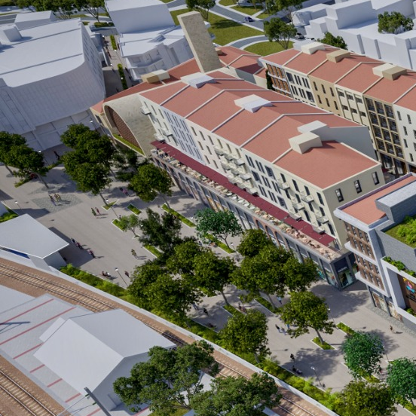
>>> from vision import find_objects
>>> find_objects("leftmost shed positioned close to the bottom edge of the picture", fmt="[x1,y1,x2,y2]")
[33,311,181,412]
